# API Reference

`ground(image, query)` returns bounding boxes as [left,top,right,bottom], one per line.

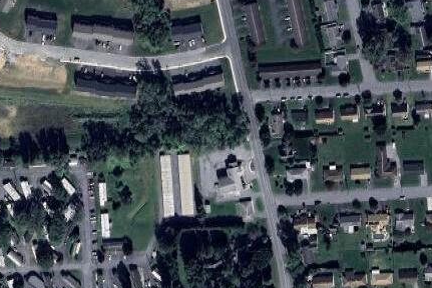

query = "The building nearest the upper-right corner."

[405,0,424,22]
